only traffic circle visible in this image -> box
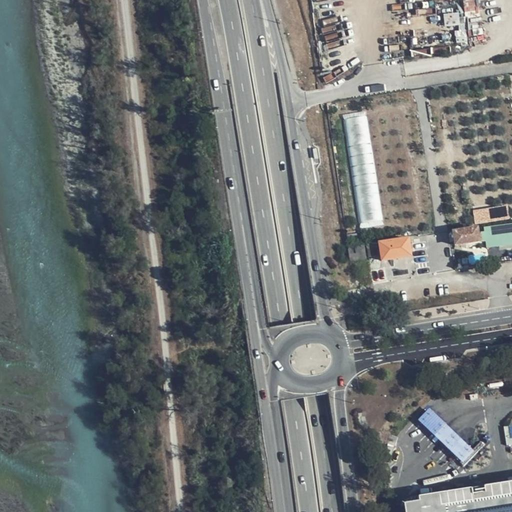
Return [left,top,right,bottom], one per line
[262,318,355,399]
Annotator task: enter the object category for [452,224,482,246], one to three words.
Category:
house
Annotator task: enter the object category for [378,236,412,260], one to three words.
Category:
house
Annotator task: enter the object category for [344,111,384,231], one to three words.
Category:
greenhouse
